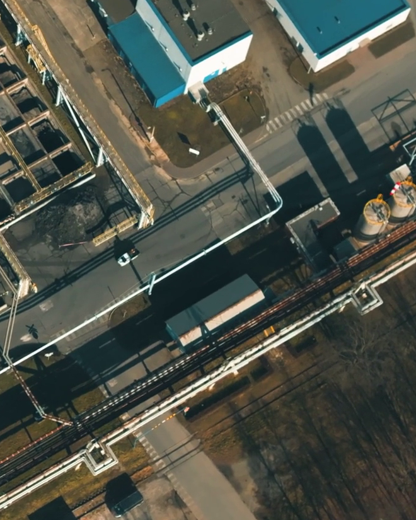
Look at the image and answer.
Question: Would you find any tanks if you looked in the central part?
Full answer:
No, there's no tank to be seen in the central part.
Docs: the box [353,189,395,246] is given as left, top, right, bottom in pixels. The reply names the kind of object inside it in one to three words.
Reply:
storage tank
